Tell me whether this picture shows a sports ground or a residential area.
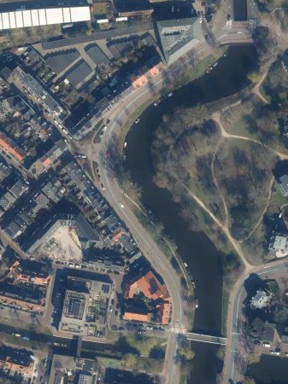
residential area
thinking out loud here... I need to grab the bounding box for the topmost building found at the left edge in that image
[0,5,92,29]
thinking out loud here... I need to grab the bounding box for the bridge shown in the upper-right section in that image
[227,20,255,44]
